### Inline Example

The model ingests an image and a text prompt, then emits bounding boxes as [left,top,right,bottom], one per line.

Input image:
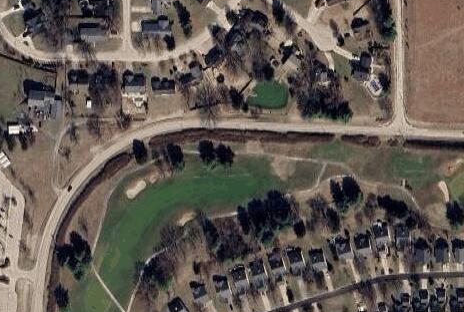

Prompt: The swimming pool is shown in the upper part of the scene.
[368,77,385,95]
